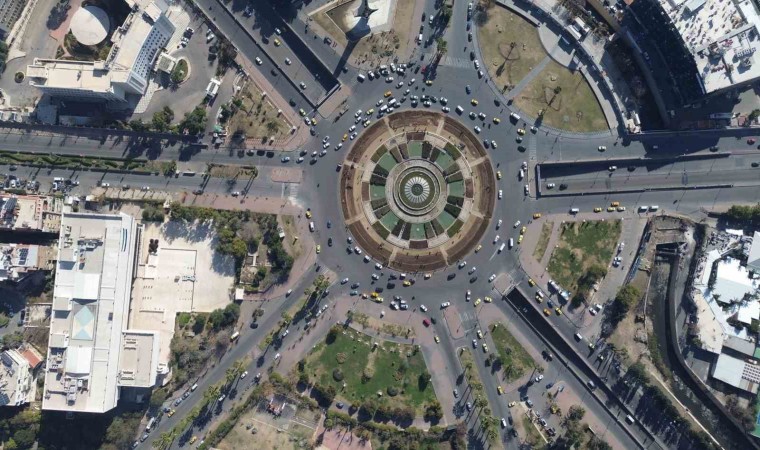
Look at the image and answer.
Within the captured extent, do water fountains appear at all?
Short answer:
Yes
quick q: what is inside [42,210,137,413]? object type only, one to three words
building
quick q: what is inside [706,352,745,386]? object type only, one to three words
building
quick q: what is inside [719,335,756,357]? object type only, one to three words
house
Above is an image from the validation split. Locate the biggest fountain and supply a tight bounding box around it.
[395,167,442,214]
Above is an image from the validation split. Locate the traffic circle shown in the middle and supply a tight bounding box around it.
[338,111,497,270]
